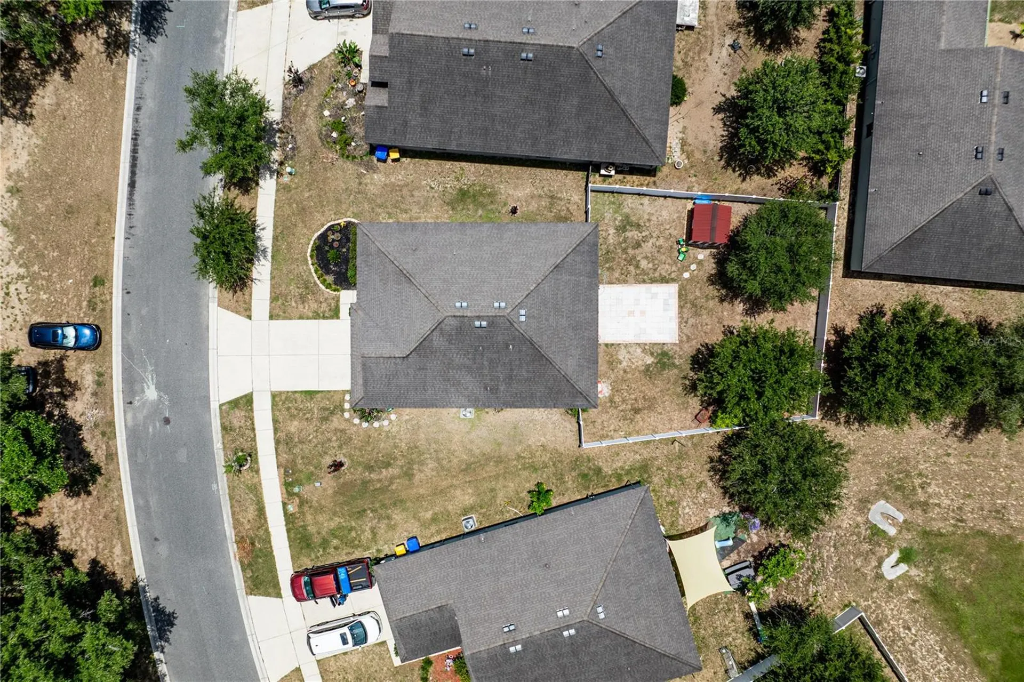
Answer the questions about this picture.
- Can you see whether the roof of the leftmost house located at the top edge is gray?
Yes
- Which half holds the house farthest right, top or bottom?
top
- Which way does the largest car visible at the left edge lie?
horizontally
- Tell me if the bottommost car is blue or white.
white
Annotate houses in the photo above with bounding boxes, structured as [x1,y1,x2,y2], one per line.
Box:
[373,484,703,682]
[364,0,682,167]
[350,221,599,409]
[852,0,1024,285]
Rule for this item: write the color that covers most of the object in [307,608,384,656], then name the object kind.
white car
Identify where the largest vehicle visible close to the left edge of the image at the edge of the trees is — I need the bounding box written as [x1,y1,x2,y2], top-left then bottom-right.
[26,318,106,354]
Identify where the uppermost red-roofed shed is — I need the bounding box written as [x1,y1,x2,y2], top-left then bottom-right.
[680,204,730,247]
